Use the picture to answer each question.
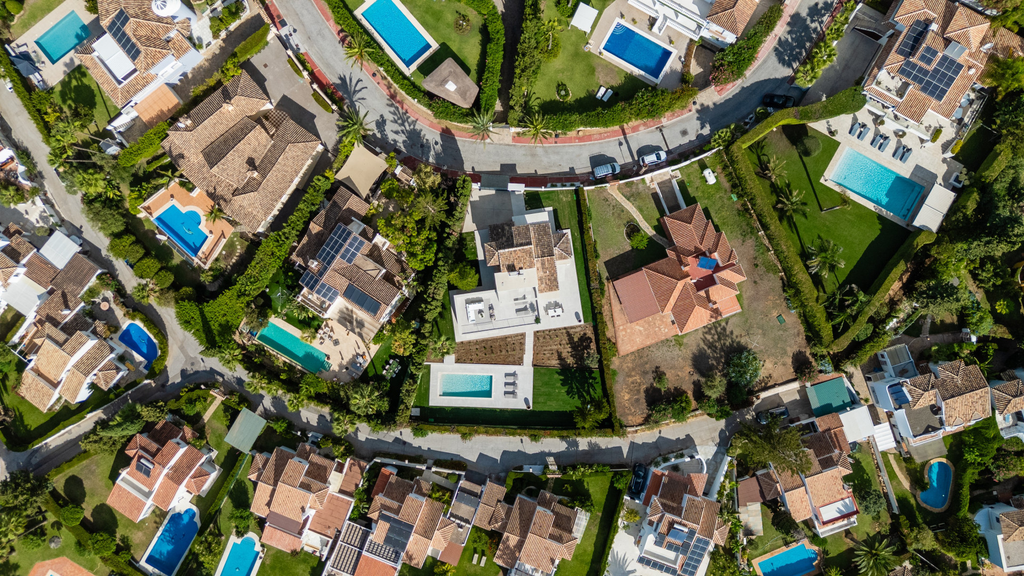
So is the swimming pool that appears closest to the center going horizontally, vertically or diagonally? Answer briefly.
horizontally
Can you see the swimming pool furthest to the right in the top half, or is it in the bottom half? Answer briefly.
bottom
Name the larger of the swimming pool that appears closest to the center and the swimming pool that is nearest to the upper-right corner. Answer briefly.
the swimming pool that is nearest to the upper-right corner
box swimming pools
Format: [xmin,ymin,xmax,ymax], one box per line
[827,145,927,223]
[143,506,199,576]
[598,16,678,84]
[355,0,438,75]
[151,201,210,260]
[256,320,334,373]
[918,459,955,511]
[117,321,160,371]
[33,9,93,65]
[755,542,821,576]
[218,535,262,576]
[436,371,495,401]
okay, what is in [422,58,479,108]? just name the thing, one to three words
shed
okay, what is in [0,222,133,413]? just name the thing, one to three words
house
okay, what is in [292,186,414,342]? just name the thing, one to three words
house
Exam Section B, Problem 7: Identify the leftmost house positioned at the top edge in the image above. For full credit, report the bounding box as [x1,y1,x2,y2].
[75,0,211,134]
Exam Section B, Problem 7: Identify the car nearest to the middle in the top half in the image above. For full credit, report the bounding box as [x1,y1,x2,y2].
[593,164,619,177]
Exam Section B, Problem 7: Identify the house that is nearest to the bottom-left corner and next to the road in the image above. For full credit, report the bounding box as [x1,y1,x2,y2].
[106,416,223,523]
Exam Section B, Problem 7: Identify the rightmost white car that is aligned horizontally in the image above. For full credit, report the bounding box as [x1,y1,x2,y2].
[639,151,666,165]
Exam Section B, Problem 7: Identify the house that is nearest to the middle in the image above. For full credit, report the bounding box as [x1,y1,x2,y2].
[454,212,571,333]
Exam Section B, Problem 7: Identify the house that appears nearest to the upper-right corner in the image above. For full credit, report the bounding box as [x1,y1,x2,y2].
[861,0,1024,140]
